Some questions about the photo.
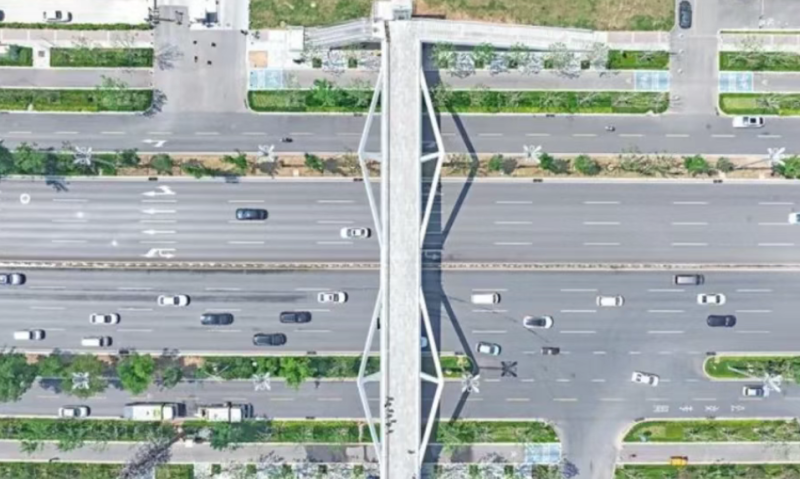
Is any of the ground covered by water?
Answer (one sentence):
No, the picture contains no water.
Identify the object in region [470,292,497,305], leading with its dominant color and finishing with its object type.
white vehicle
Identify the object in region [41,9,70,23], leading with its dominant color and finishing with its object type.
white vehicle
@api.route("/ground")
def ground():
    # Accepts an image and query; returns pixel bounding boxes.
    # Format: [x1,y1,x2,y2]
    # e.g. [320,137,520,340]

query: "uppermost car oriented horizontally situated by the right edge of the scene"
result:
[731,116,762,128]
